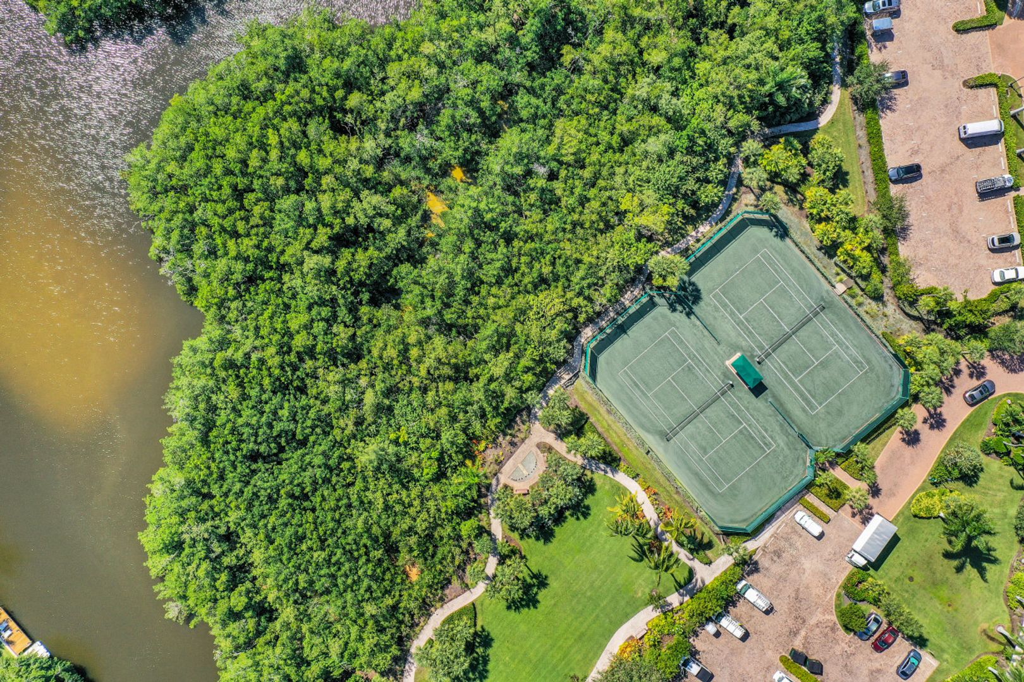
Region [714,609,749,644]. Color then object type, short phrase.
white van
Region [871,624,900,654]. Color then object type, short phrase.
red car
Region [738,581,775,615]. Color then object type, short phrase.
white van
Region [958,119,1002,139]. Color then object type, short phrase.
white vehicle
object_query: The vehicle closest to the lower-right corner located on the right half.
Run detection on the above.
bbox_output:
[896,649,921,681]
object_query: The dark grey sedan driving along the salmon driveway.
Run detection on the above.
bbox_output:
[961,379,994,406]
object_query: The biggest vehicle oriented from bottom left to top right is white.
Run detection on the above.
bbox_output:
[847,510,898,565]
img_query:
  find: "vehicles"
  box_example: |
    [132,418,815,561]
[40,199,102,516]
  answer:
[855,611,883,642]
[888,164,922,180]
[986,234,1019,249]
[866,0,901,16]
[896,649,921,681]
[877,69,910,86]
[869,17,894,34]
[793,511,824,538]
[958,119,1002,139]
[973,175,1013,193]
[961,379,994,406]
[738,581,775,615]
[714,609,749,644]
[847,510,898,565]
[991,267,1024,282]
[705,622,721,636]
[768,667,795,682]
[871,624,900,654]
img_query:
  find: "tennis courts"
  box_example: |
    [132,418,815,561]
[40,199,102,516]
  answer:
[677,212,903,448]
[586,294,813,528]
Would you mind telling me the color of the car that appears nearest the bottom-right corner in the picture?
blue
